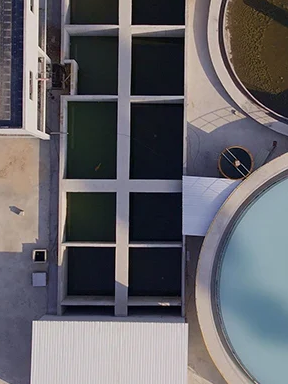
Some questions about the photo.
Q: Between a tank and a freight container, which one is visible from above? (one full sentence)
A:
There is a tank in the scene.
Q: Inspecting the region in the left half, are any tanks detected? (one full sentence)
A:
No, no tank can be made out in the left half.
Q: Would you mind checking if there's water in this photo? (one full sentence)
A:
Yes, some water is visible.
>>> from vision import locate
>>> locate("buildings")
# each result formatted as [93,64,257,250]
[32,311,187,384]
[0,0,51,139]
